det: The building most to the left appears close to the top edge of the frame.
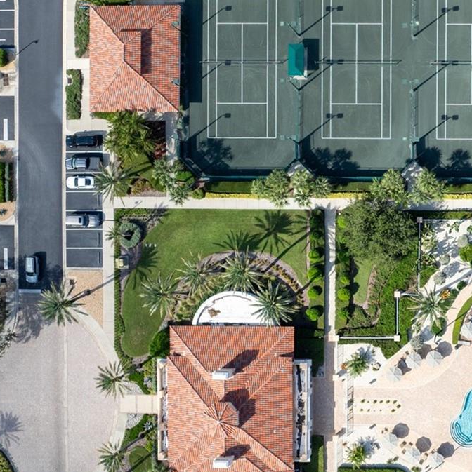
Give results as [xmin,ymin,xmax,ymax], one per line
[89,4,181,112]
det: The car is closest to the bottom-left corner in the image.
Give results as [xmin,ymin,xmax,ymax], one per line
[21,255,38,284]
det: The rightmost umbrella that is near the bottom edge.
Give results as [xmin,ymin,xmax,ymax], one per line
[428,449,446,467]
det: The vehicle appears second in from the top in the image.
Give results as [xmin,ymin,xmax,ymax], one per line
[64,155,101,170]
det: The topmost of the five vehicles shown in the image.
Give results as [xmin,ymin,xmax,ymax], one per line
[64,133,100,147]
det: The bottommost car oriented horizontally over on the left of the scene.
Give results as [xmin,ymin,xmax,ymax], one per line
[66,214,98,228]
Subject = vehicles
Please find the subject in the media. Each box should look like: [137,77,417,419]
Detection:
[21,255,38,284]
[64,176,93,189]
[66,214,98,228]
[64,155,101,170]
[64,133,100,147]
